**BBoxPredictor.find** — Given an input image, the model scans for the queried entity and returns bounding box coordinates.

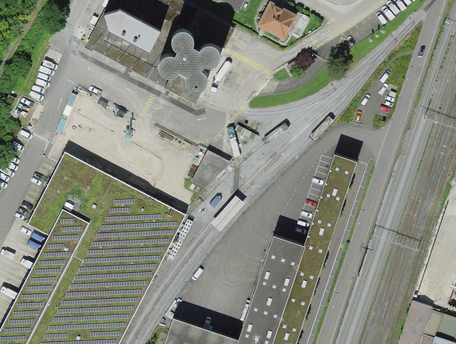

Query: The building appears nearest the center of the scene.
[192,149,232,188]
